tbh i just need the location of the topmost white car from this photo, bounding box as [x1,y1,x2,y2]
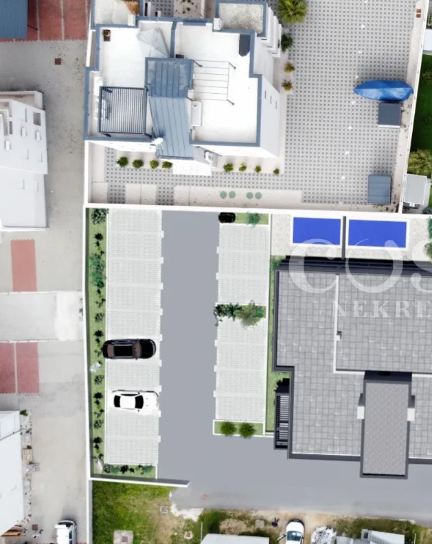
[111,389,162,414]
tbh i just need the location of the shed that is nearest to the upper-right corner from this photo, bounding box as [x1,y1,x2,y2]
[378,103,401,131]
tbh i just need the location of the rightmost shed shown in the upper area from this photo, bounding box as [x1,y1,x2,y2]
[404,176,427,205]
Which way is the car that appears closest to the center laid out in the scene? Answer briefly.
from side to side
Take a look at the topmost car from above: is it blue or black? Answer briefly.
black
